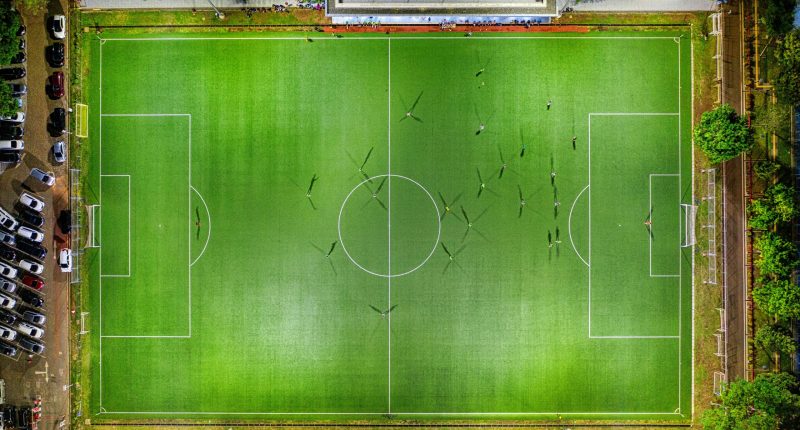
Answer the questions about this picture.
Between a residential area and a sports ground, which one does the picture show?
sports ground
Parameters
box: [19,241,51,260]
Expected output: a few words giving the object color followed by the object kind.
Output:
black vehicle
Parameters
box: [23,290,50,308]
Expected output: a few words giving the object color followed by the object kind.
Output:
black car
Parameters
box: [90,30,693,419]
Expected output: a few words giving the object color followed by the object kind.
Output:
green soccer field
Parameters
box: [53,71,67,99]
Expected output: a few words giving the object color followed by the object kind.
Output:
red car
